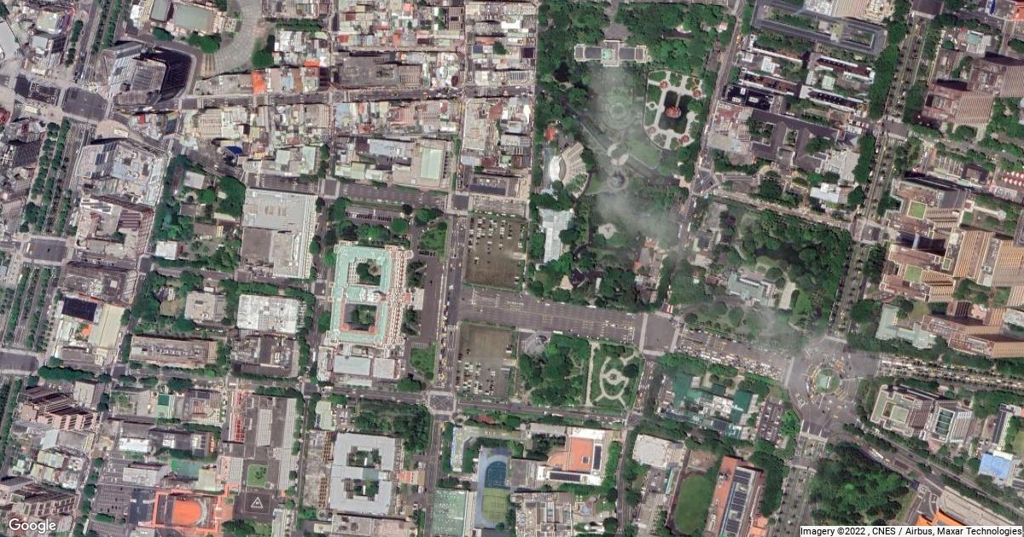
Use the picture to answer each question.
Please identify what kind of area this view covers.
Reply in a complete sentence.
This looks like a residential area.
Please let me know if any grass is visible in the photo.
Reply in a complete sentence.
Yes, there's grass in this view.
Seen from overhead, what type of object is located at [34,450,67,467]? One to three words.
house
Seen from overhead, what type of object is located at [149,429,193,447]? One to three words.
building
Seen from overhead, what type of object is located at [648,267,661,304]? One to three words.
house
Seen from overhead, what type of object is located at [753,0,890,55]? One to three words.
building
